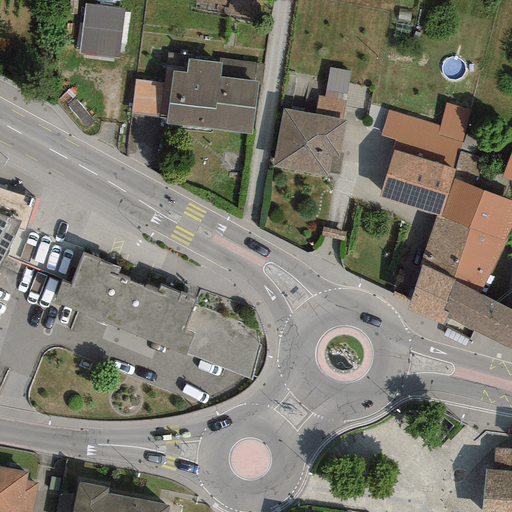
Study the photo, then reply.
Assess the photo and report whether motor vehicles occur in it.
Yes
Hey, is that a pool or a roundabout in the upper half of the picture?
pool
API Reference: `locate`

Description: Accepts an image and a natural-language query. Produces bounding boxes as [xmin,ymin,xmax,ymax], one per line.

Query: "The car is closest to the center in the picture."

[245,238,269,254]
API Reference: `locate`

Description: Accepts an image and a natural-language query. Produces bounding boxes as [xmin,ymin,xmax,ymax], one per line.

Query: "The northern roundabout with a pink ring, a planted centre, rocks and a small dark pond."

[292,302,396,406]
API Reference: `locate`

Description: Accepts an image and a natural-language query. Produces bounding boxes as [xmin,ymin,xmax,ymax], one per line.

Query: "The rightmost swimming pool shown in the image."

[442,51,467,80]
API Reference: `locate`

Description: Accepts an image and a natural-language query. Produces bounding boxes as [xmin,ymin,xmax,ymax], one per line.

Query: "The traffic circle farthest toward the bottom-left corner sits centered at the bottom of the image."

[199,406,303,510]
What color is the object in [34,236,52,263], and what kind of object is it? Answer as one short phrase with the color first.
white vehicle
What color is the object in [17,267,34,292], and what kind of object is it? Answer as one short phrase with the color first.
white vehicle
